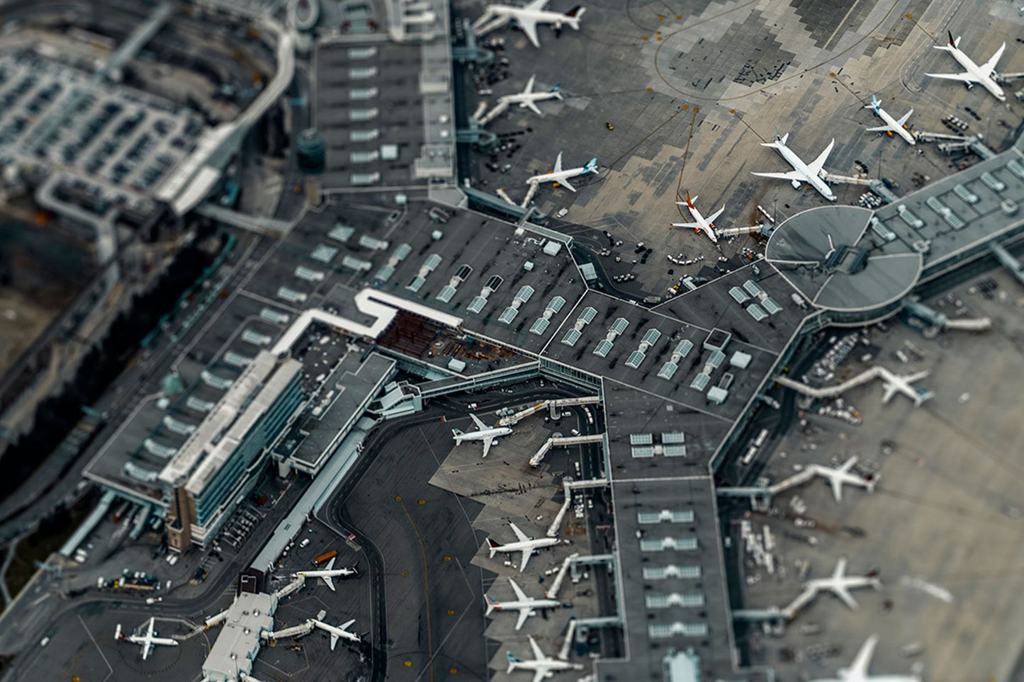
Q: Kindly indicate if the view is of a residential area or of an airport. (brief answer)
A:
airport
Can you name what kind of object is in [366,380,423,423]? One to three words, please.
building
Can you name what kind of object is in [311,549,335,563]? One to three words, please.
vehicle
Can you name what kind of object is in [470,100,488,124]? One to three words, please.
jet bridge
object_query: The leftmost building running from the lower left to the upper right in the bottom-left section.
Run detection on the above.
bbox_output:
[60,495,117,564]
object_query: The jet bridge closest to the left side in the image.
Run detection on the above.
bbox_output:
[201,610,230,633]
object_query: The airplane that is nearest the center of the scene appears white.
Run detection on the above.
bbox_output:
[455,414,511,456]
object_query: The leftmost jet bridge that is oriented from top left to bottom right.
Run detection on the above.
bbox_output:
[495,188,515,207]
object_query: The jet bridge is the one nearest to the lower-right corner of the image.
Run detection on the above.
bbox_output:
[730,585,819,624]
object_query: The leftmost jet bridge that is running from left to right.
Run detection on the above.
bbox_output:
[268,621,314,642]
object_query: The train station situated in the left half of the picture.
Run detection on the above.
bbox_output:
[155,127,225,225]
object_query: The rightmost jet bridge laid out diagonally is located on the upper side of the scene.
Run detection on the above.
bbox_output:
[992,243,1024,278]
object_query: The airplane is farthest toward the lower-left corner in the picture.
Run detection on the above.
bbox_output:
[121,619,177,658]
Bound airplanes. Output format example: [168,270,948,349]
[528,152,596,191]
[790,635,912,682]
[307,619,365,649]
[806,557,880,608]
[488,578,558,628]
[505,636,577,682]
[492,0,581,44]
[490,521,558,569]
[501,75,559,113]
[816,455,878,500]
[750,129,834,201]
[121,619,177,658]
[455,414,511,456]
[924,32,1007,102]
[672,194,724,243]
[865,97,916,145]
[879,366,932,407]
[293,557,355,590]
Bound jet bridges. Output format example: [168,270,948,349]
[519,180,539,224]
[715,463,817,499]
[906,300,996,334]
[471,99,506,132]
[268,621,314,642]
[464,13,514,50]
[548,480,608,539]
[987,93,1024,107]
[820,172,894,202]
[201,610,230,633]
[495,397,601,428]
[730,585,819,624]
[990,72,1024,86]
[272,572,306,603]
[495,188,515,207]
[560,617,622,662]
[470,100,488,124]
[470,7,494,38]
[917,131,990,154]
[544,554,617,601]
[933,139,973,156]
[718,225,769,243]
[531,435,605,469]
[992,243,1024,278]
[772,363,881,401]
